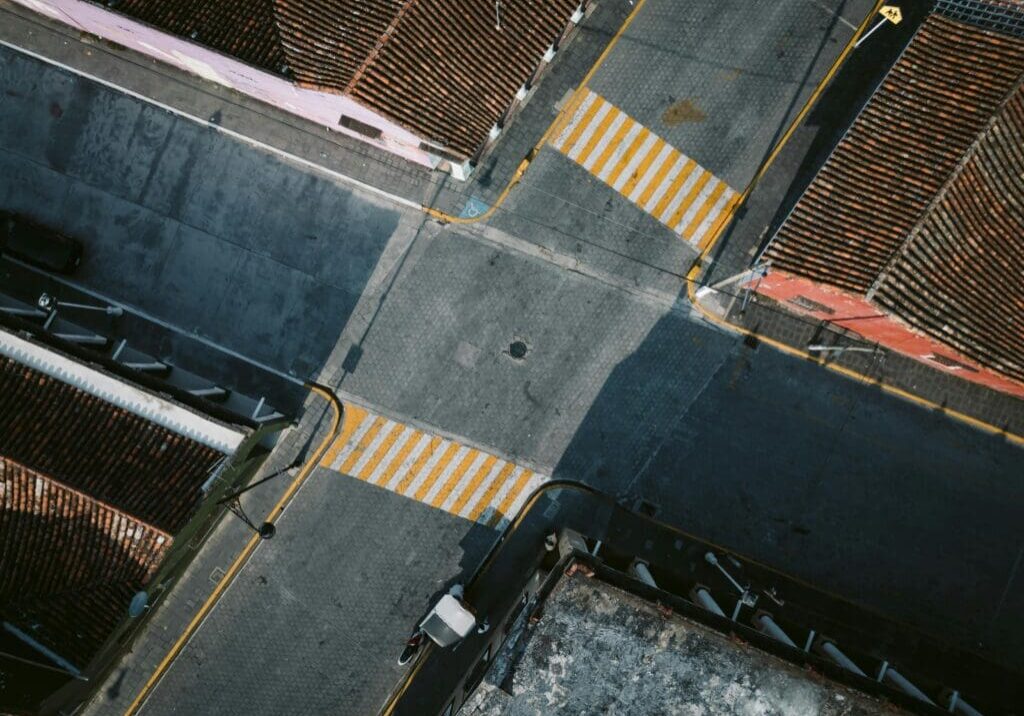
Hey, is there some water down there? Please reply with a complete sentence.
No, there's no water in this view.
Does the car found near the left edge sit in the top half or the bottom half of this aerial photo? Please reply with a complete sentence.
It is in the top half that the car found near the left edge appears.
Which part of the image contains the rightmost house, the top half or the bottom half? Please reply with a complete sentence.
The rightmost house is in the top half of the image.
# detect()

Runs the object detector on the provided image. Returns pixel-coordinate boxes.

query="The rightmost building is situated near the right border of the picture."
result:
[742,0,1024,397]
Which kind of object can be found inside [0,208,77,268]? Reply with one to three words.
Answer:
car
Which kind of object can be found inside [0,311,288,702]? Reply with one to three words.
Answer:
building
